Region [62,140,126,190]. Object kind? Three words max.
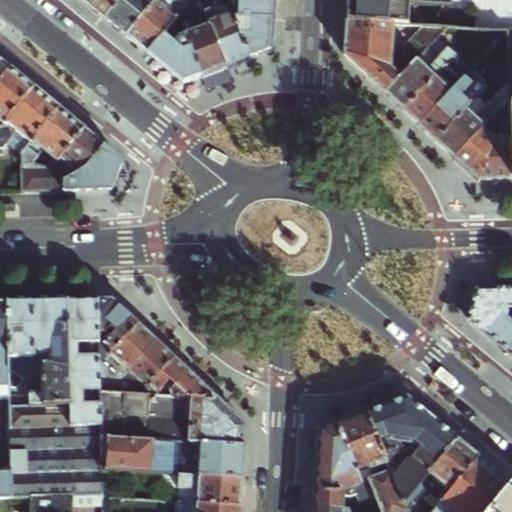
building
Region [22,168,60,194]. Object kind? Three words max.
house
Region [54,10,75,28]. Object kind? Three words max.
car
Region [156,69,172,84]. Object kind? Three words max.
umbrella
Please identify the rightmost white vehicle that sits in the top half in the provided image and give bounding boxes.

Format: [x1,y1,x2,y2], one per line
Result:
[204,146,229,166]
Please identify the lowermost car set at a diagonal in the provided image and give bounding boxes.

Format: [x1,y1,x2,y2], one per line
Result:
[487,429,507,447]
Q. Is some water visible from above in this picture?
No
